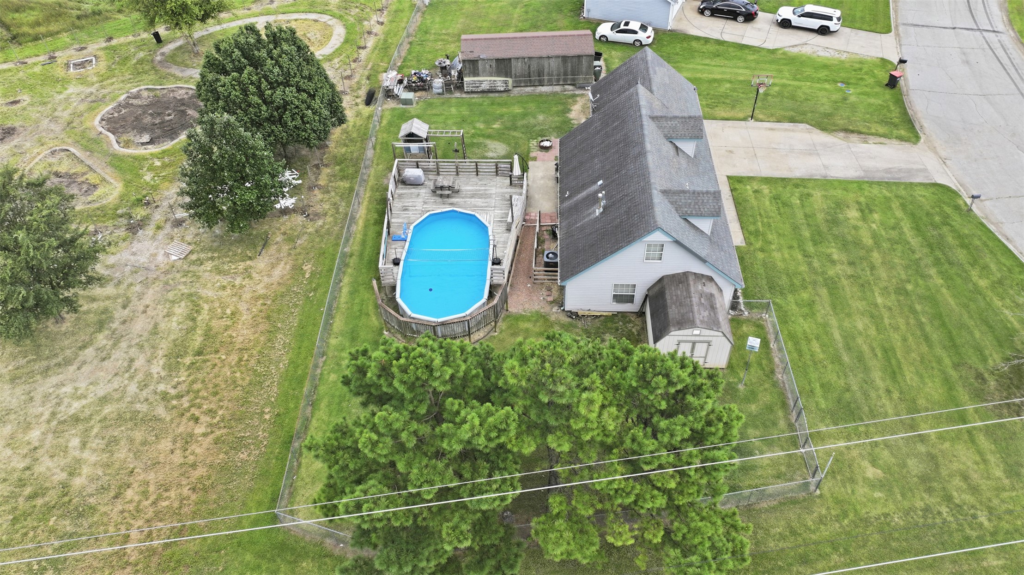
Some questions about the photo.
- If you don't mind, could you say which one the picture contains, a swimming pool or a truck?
swimming pool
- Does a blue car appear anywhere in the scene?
No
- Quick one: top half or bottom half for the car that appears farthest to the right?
top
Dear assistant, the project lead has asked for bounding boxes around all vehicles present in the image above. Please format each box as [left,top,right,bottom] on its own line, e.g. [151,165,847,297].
[774,2,843,34]
[594,19,654,45]
[697,0,760,22]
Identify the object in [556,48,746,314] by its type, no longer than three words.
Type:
house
